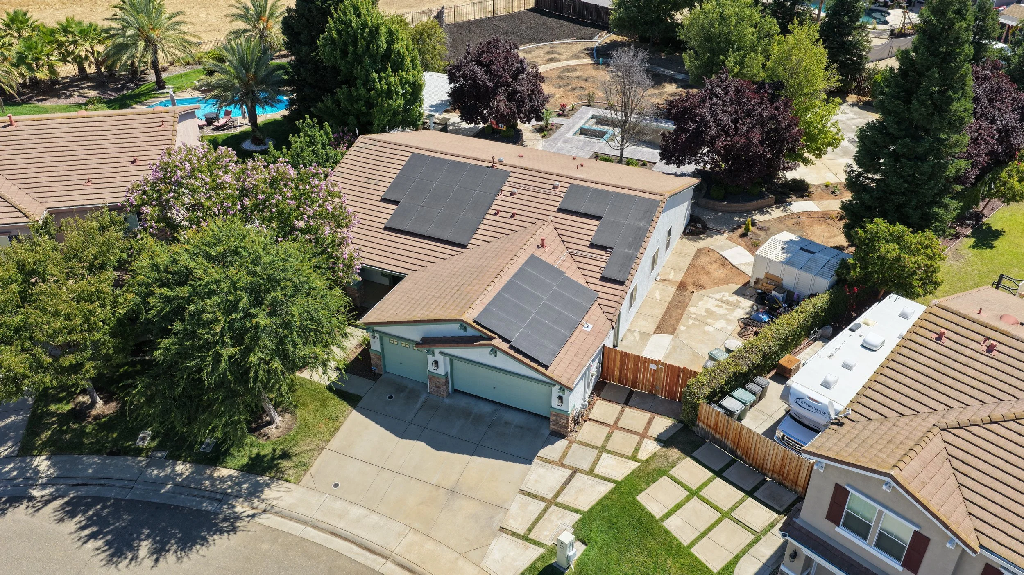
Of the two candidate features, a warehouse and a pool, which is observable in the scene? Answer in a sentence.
The image shows a pool.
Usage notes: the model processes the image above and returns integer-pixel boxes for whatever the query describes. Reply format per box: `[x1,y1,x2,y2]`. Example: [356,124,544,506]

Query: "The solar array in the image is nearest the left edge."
[381,152,508,247]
